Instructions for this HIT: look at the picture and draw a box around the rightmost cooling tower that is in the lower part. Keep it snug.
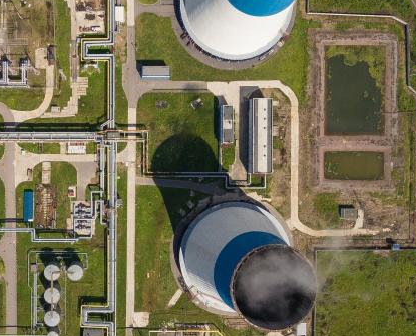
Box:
[169,190,319,332]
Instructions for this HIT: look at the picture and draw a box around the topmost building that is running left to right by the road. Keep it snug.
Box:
[142,65,170,77]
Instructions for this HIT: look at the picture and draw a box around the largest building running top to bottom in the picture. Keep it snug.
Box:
[248,97,272,173]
